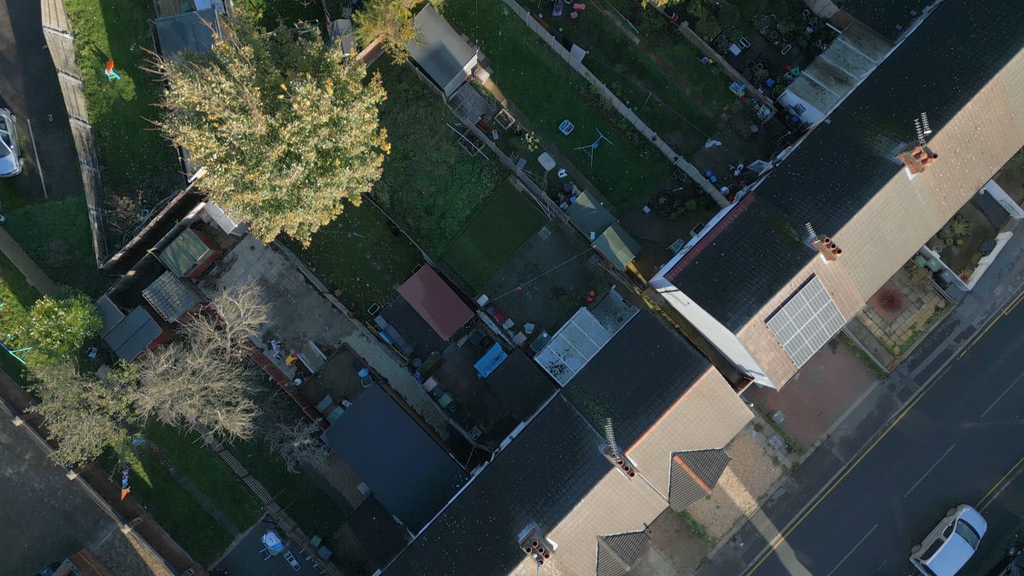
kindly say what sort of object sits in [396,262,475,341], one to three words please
house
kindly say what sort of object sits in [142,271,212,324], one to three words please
shed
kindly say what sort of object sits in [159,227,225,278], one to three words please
shed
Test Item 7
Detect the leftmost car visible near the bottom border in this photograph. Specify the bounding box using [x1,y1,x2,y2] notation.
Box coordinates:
[910,506,989,576]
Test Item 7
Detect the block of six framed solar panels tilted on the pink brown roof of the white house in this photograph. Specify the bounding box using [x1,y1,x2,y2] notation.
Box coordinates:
[764,272,851,372]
